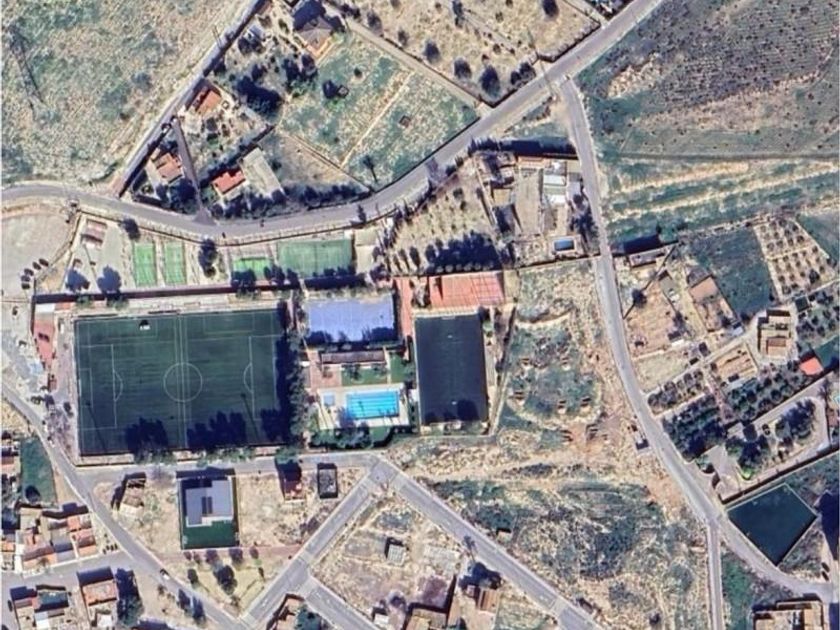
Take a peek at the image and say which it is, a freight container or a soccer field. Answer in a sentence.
The one in the frame is a soccer field.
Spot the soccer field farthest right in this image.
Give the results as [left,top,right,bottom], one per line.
[416,314,488,425]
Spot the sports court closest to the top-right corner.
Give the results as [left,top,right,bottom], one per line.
[430,272,505,308]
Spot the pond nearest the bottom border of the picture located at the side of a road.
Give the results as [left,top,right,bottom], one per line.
[726,484,818,562]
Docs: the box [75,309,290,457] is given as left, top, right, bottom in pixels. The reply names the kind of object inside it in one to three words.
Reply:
soccer field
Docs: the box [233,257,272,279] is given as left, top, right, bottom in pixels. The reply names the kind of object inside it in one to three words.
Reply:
sports court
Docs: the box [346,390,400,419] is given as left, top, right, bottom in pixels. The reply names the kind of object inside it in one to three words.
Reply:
swimming pool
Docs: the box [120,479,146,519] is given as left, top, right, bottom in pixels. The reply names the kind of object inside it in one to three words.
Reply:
house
